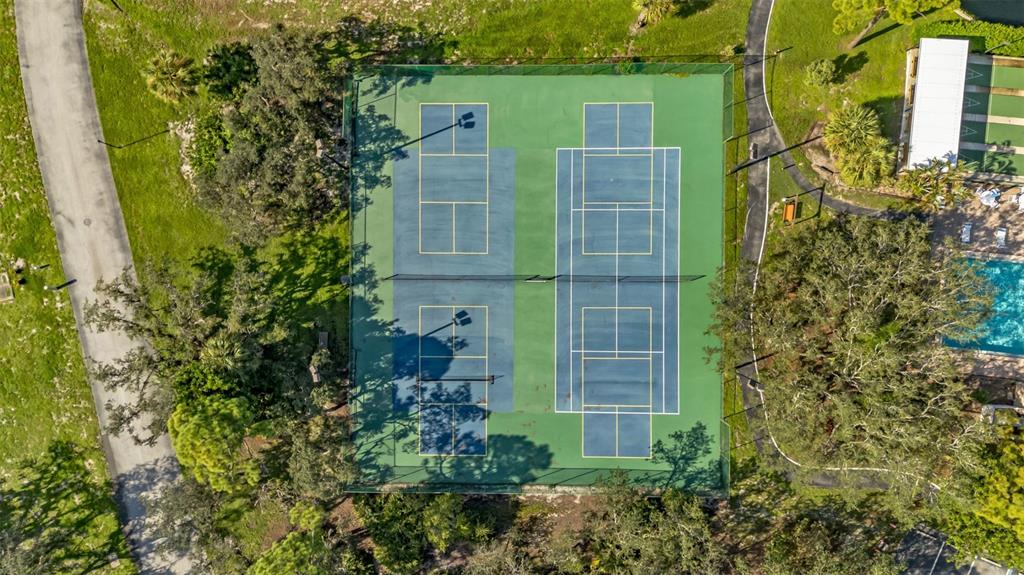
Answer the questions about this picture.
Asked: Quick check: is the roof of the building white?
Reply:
Yes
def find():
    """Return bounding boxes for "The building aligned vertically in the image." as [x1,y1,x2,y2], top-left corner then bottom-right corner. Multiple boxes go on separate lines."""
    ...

[894,38,969,171]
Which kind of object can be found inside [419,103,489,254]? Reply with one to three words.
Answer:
sports court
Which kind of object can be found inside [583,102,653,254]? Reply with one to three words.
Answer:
sports court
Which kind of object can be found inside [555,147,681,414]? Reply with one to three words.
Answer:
tennis court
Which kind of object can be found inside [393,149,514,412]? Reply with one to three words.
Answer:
tennis court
